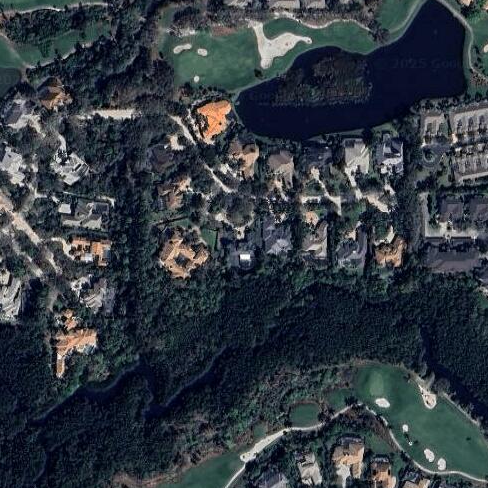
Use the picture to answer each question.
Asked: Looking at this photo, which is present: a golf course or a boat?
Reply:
golf course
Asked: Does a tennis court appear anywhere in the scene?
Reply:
No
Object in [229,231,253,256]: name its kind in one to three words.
house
